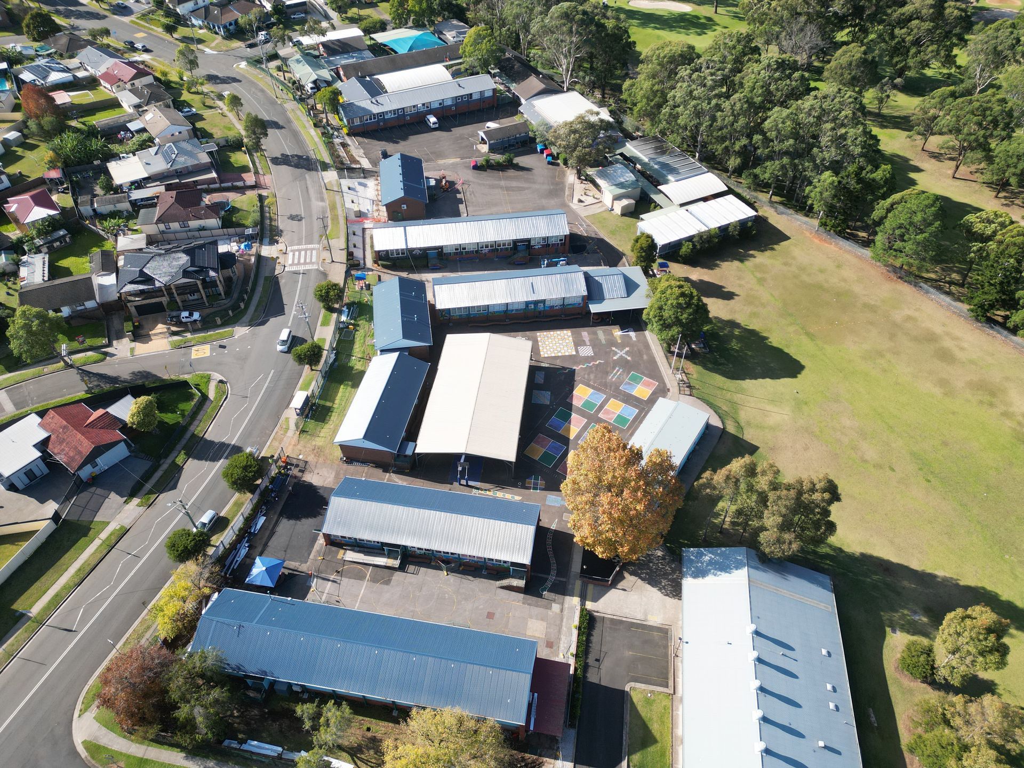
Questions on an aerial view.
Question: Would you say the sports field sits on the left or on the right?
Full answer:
It is on the right.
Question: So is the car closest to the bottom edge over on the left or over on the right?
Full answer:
You can find the car closest to the bottom edge on the left side of the picture.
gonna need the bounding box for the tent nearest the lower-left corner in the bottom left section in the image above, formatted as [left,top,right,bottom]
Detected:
[245,557,289,595]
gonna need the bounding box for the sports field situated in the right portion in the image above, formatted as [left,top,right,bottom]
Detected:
[575,195,1024,768]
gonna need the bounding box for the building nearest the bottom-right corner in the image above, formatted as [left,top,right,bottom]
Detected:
[677,545,860,768]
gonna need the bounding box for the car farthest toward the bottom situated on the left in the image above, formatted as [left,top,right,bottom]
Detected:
[192,501,223,534]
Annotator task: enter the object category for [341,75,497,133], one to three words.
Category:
building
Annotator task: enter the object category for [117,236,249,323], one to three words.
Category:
house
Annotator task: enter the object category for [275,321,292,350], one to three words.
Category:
vehicle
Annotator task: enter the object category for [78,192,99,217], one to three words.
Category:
shed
